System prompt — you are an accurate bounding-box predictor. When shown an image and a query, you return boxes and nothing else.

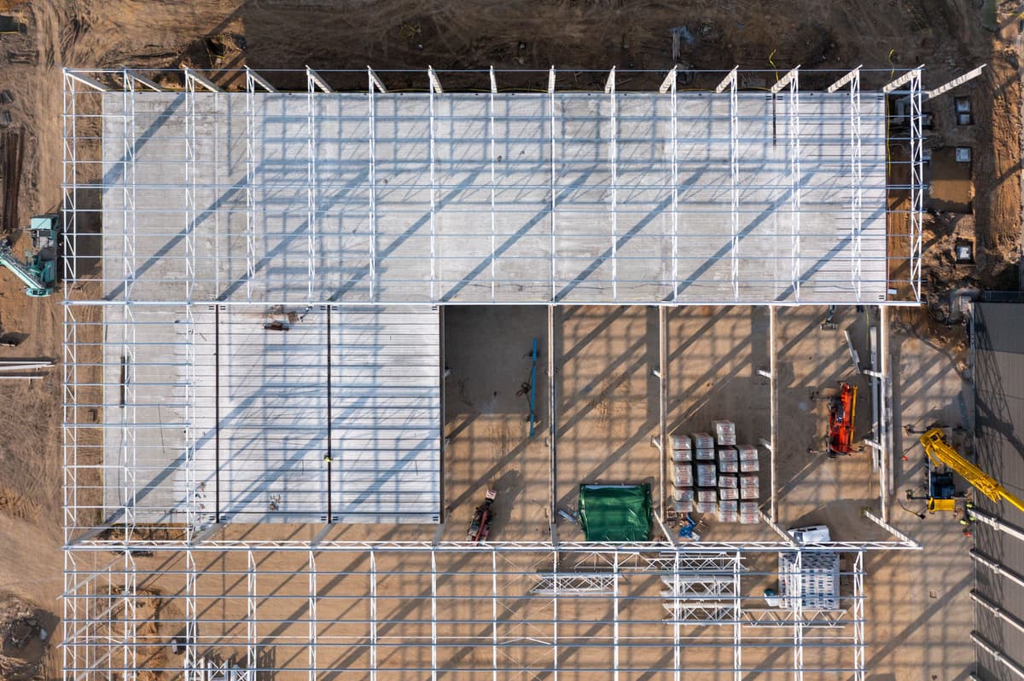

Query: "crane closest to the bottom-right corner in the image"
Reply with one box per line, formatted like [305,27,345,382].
[901,417,1024,518]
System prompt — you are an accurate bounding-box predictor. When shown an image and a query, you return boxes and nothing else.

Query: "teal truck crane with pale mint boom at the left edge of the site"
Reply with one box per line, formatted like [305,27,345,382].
[0,213,64,297]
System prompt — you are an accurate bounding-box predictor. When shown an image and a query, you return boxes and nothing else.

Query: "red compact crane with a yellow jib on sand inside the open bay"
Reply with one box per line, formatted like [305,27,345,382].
[805,381,862,456]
